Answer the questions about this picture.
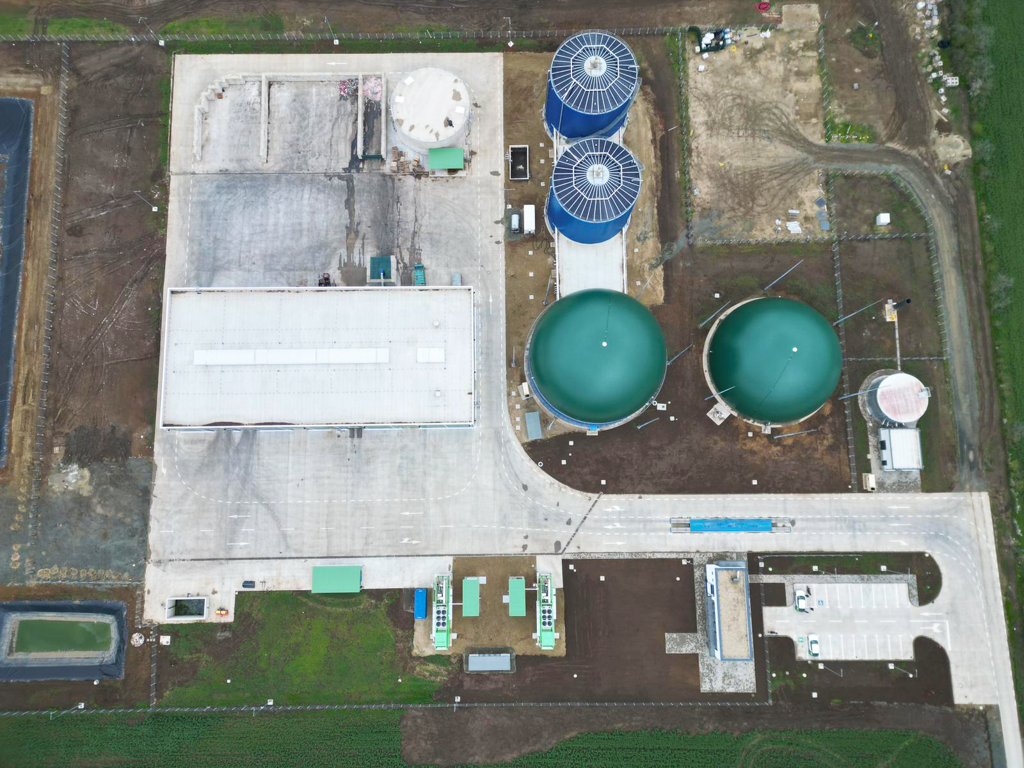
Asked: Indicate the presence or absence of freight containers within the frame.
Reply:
Yes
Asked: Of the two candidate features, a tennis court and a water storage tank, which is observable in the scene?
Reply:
water storage tank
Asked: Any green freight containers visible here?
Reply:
Yes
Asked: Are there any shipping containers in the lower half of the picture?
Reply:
Yes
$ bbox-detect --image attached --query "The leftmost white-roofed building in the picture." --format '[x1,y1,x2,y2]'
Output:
[160,286,483,435]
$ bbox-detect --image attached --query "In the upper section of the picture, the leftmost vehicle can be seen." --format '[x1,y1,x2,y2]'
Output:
[319,273,333,288]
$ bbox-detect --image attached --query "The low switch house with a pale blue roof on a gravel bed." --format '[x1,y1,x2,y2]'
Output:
[468,651,511,671]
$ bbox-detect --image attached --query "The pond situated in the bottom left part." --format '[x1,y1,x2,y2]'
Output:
[0,600,127,680]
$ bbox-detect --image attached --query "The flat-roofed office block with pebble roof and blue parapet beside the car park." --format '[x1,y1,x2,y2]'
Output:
[701,559,753,661]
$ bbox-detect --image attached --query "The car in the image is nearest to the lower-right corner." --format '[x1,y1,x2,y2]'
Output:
[807,635,819,657]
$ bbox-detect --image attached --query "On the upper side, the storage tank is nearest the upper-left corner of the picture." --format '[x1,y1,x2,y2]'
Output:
[390,68,475,156]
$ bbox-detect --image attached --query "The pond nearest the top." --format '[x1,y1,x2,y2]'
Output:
[0,98,34,466]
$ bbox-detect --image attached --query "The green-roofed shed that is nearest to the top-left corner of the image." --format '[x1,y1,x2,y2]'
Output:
[430,141,470,178]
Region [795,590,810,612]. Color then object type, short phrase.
white car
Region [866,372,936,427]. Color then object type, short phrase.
white water tank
